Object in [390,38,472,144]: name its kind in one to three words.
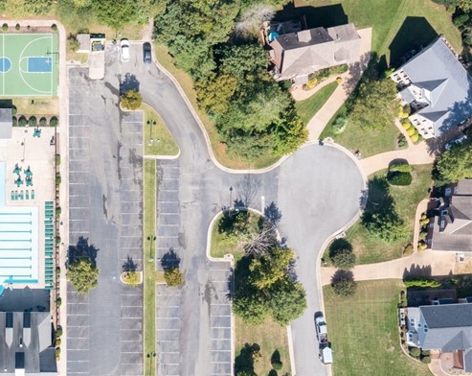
house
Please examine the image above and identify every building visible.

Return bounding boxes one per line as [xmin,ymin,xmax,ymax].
[262,17,361,85]
[0,312,57,376]
[399,306,472,376]
[417,179,472,249]
[77,32,89,53]
[390,38,472,144]
[0,108,13,139]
